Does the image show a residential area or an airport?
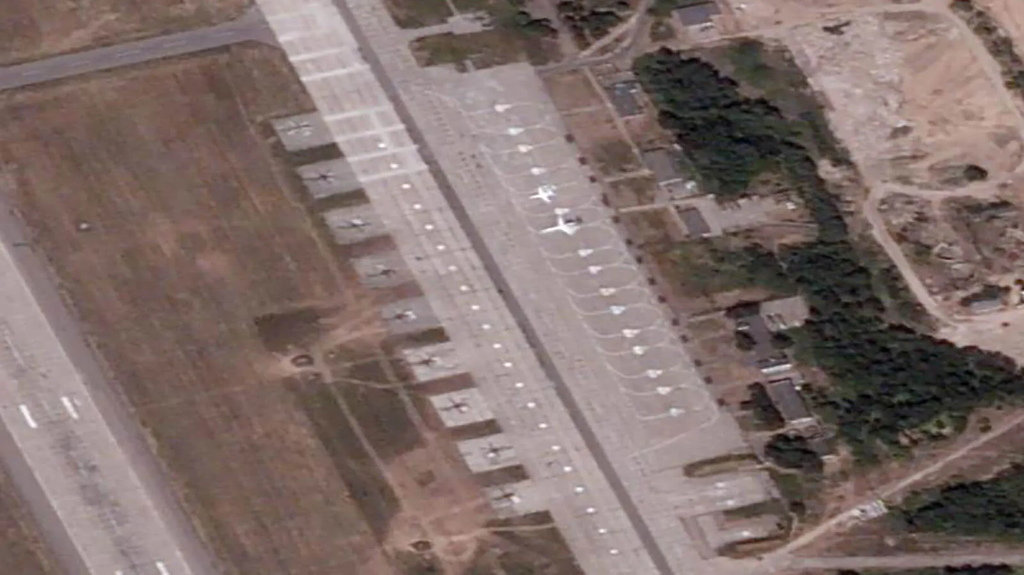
airport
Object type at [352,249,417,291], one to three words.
helipad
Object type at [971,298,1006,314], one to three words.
shed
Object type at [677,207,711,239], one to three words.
building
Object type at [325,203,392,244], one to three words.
helipad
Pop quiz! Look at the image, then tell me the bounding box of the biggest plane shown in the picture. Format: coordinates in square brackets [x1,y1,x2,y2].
[540,215,581,240]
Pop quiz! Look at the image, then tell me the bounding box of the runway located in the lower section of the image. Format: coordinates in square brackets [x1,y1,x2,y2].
[0,244,188,575]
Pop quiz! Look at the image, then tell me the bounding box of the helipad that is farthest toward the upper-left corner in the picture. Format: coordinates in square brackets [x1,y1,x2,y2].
[272,111,336,151]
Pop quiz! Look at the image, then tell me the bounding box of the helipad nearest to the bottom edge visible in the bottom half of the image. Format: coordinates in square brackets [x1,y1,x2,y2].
[481,479,551,517]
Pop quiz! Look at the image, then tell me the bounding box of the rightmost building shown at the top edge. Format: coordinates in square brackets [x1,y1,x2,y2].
[676,0,722,29]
